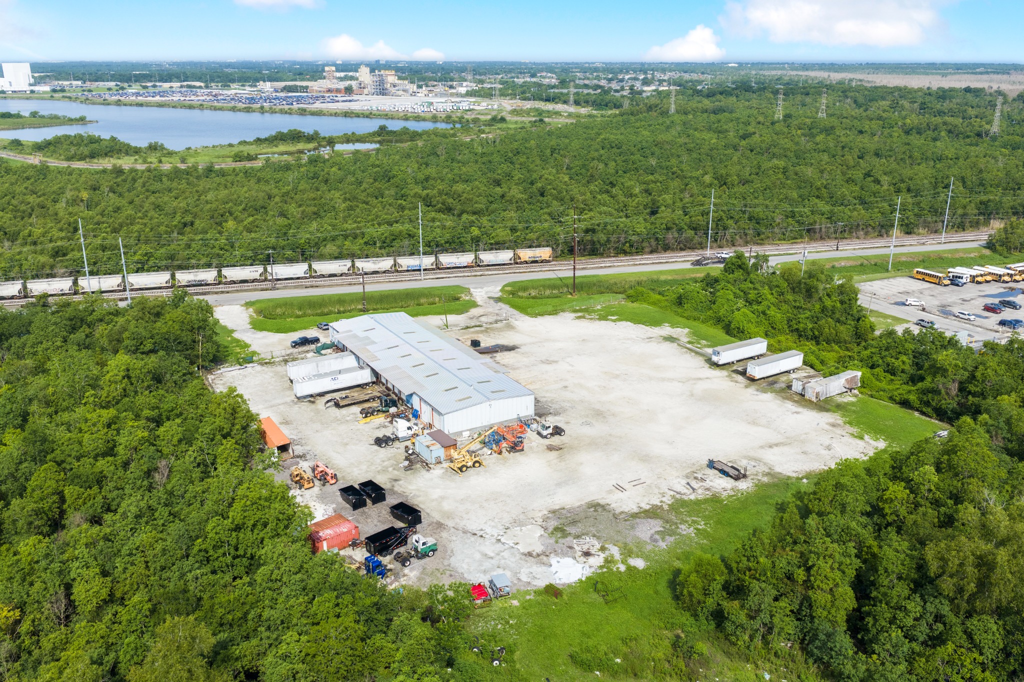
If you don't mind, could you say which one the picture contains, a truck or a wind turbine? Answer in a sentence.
Visible in the photo is a truck.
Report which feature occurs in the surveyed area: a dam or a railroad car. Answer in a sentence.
It is a railroad car that can be seen here.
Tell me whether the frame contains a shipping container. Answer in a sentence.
Yes, looking at the shot, I can spot a shipping container.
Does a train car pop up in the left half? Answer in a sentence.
Yes, there is a train car in the left half.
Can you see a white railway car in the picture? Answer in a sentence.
Yes, a white railway car appears in the view.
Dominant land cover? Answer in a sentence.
The bulk of the photo consists of trees.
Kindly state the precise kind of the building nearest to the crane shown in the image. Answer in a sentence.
The building nearest to the crane appears to be a warehouse.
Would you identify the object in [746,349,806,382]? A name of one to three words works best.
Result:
trailer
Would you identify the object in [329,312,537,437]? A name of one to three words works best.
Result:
warehouse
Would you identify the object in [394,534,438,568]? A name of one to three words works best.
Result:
truck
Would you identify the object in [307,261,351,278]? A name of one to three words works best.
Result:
rail car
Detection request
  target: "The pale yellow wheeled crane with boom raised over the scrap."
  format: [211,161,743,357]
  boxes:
[446,424,497,477]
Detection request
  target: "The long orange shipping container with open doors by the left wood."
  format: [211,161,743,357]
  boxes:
[261,417,298,463]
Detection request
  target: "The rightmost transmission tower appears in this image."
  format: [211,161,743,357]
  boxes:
[988,93,1005,131]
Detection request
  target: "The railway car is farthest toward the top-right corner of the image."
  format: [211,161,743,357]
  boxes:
[515,247,553,263]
